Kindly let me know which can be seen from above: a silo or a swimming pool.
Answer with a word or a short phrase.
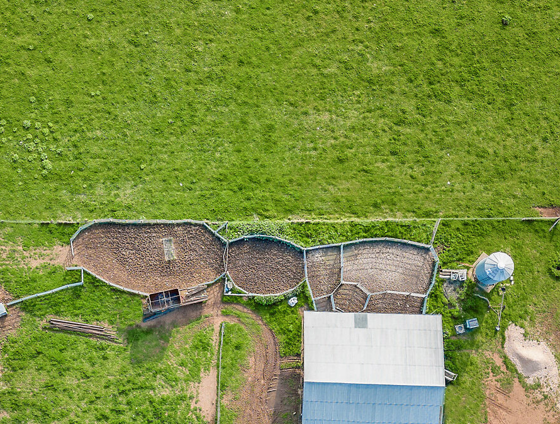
silo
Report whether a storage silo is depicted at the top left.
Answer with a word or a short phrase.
No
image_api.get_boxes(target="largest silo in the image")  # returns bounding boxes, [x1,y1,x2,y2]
[469,251,514,291]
